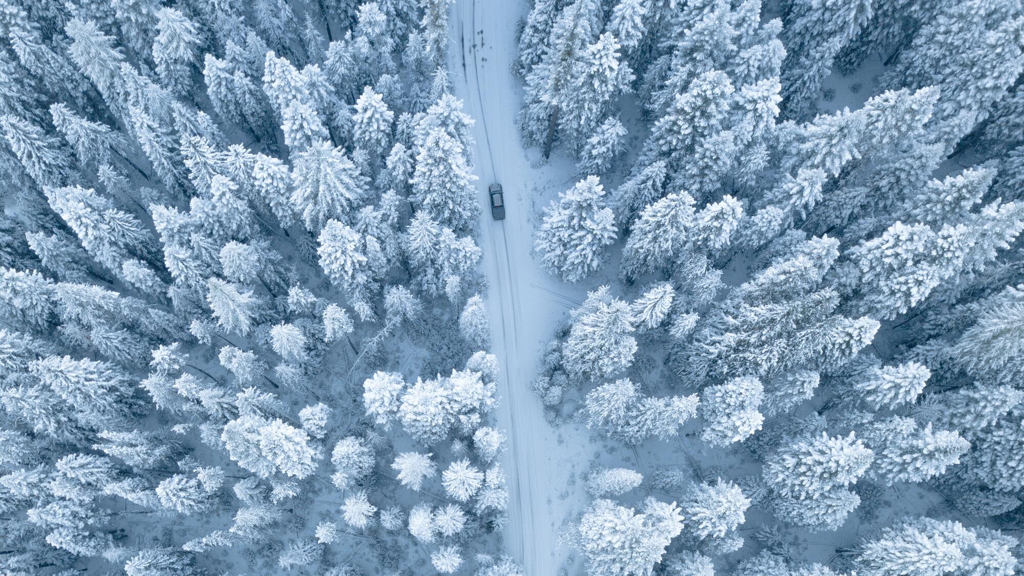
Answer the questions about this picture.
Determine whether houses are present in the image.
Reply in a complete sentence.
No, no house is visible in the view.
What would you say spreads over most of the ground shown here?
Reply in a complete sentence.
Most of the picture is covered by trees.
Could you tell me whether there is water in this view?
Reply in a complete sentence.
No, there is no water in the image.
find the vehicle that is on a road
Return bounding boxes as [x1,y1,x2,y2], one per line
[490,184,508,222]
